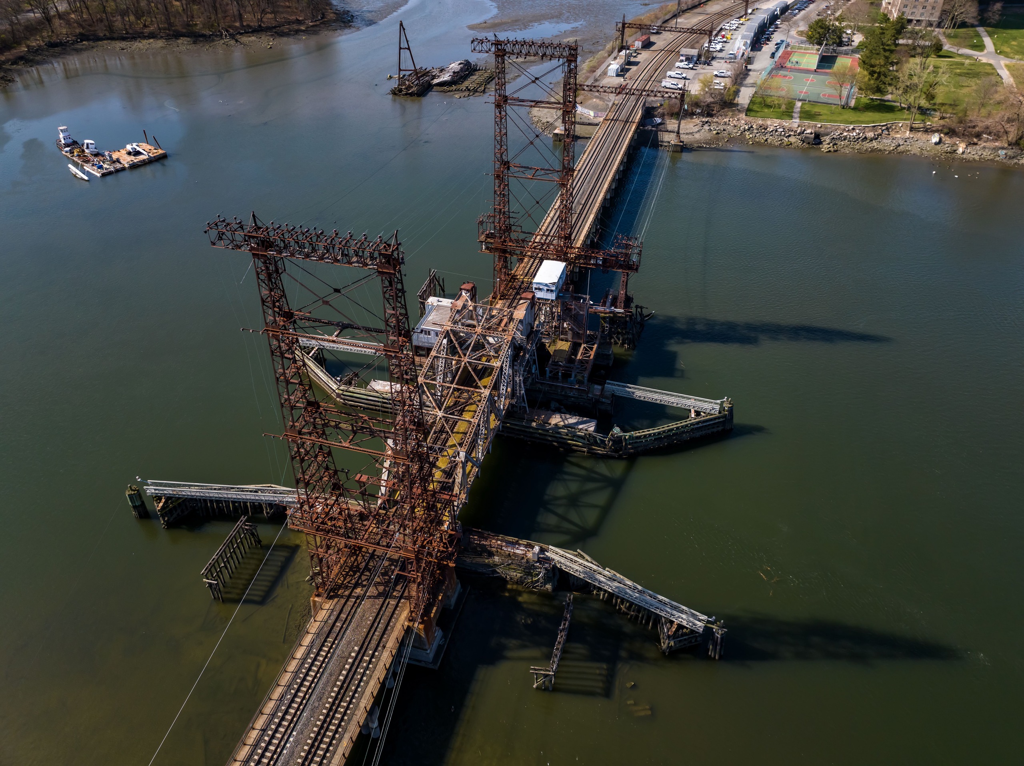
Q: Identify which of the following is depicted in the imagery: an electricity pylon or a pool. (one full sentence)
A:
Visible in the photo is an electricity pylon.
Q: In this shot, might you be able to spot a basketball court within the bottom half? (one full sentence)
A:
No, no basketball court can be made out within the bottom half.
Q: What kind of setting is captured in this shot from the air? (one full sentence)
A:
The picture captures a port.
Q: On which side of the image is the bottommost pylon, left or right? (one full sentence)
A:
The bottommost pylon sits on the left side.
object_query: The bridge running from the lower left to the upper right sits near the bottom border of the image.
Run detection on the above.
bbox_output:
[222,525,444,766]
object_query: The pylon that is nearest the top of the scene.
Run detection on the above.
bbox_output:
[467,30,592,304]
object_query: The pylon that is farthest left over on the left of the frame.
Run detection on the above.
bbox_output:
[197,210,467,623]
